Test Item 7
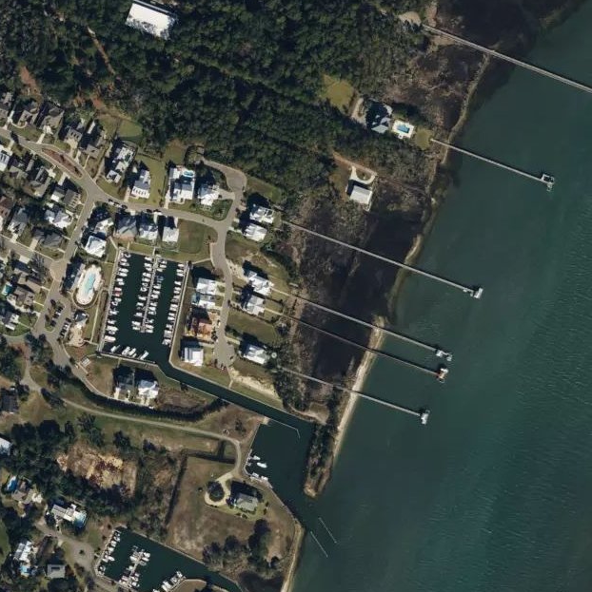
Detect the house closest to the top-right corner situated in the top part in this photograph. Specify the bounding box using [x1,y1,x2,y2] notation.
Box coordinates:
[367,106,397,133]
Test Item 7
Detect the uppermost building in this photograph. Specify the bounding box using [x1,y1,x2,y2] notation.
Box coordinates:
[125,0,176,37]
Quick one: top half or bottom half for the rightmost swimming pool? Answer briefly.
top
